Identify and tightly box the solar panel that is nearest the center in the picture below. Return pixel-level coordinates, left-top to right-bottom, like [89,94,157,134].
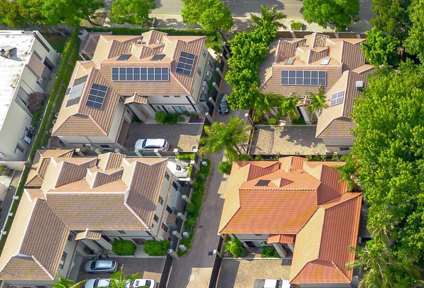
[177,50,195,76]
